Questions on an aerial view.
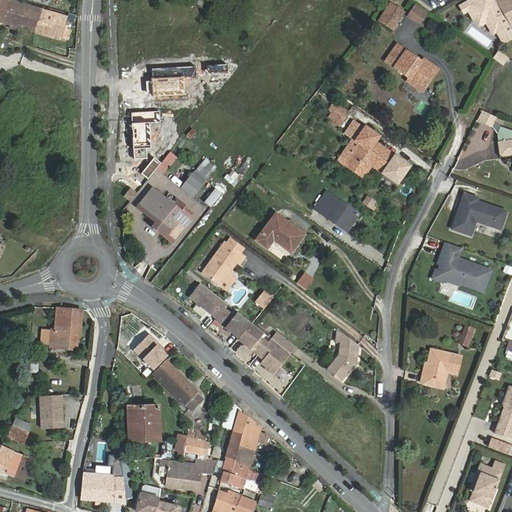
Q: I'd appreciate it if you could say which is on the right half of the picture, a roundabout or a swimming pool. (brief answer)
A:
swimming pool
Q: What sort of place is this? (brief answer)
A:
residential area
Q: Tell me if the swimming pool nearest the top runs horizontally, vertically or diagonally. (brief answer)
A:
diagonally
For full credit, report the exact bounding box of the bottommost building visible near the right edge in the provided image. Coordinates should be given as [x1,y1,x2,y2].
[470,460,506,512]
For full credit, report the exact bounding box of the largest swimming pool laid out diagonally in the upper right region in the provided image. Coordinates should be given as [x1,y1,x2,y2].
[464,23,496,50]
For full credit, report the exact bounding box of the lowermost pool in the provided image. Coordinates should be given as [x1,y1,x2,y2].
[95,442,107,463]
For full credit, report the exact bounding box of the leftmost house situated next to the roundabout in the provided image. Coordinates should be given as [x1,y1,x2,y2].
[48,307,83,351]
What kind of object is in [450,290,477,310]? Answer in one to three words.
swimming pool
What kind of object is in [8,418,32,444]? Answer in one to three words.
shed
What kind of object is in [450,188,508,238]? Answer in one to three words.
house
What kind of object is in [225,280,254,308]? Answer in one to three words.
swimming pool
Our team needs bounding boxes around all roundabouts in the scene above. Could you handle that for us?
[50,225,117,298]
